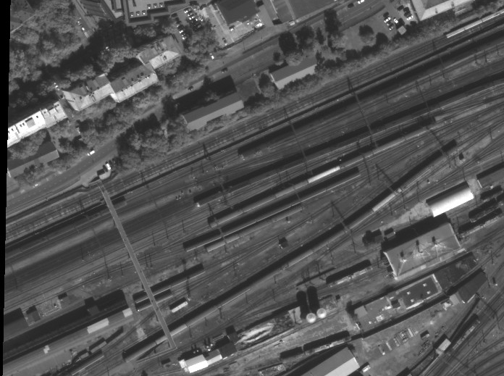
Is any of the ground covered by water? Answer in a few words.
No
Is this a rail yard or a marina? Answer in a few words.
rail yard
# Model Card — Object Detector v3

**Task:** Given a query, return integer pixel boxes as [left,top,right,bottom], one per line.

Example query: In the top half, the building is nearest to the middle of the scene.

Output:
[178,90,244,131]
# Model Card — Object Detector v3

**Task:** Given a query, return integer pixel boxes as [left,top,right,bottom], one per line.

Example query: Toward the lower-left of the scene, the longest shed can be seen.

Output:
[1,290,128,360]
